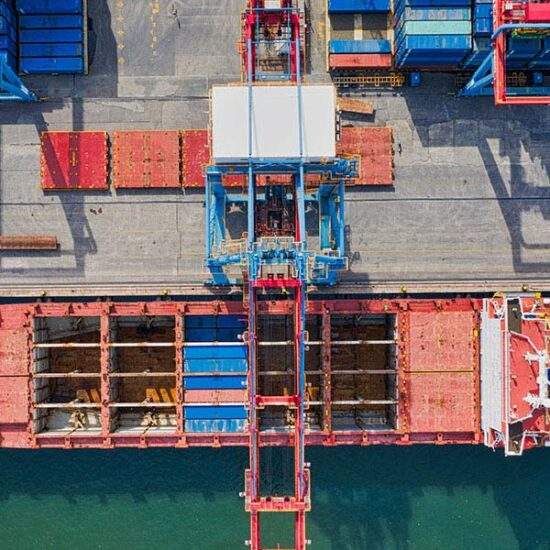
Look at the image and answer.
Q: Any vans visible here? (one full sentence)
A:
No, no van is visible in the view.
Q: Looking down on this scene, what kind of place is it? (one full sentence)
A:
The area seen from above is a port.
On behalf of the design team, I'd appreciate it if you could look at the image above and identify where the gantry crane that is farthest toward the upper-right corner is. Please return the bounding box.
[457,0,550,103]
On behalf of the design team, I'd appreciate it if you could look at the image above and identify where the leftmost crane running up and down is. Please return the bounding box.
[199,0,363,550]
